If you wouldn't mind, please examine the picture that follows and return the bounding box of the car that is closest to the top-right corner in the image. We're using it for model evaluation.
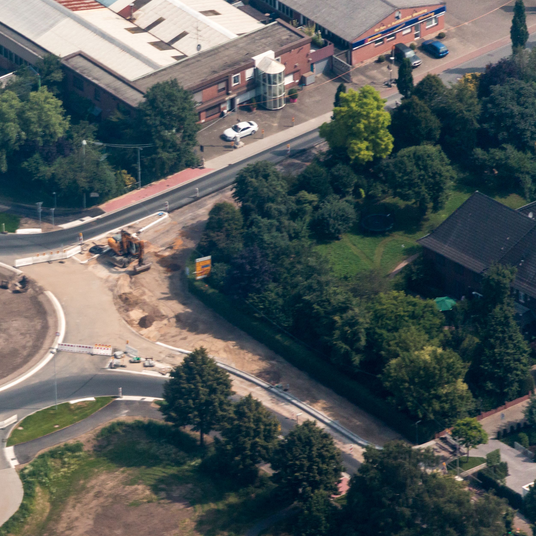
[419,38,452,58]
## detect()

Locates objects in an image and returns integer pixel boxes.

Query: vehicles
[221,119,260,140]
[102,233,153,273]
[392,35,428,62]
[419,38,452,58]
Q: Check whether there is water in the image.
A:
No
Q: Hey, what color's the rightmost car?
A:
blue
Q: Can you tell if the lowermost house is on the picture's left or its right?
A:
right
